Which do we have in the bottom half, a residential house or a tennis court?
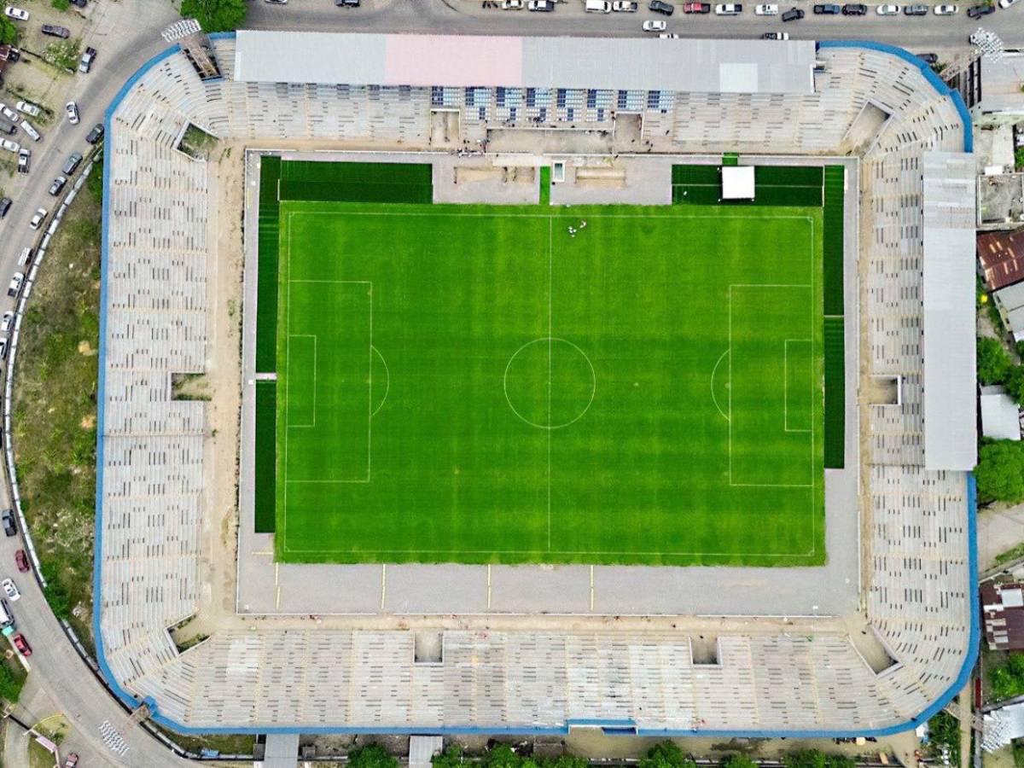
residential house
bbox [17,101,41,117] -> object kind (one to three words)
car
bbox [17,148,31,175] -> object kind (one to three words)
vehicle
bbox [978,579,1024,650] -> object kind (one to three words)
house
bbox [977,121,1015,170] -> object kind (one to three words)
house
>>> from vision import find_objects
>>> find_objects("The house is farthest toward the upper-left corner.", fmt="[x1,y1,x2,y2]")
[0,46,29,79]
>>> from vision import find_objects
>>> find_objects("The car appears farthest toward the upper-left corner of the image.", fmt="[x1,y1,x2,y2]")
[7,6,30,21]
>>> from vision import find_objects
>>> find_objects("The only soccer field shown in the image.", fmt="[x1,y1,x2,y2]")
[255,153,844,566]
